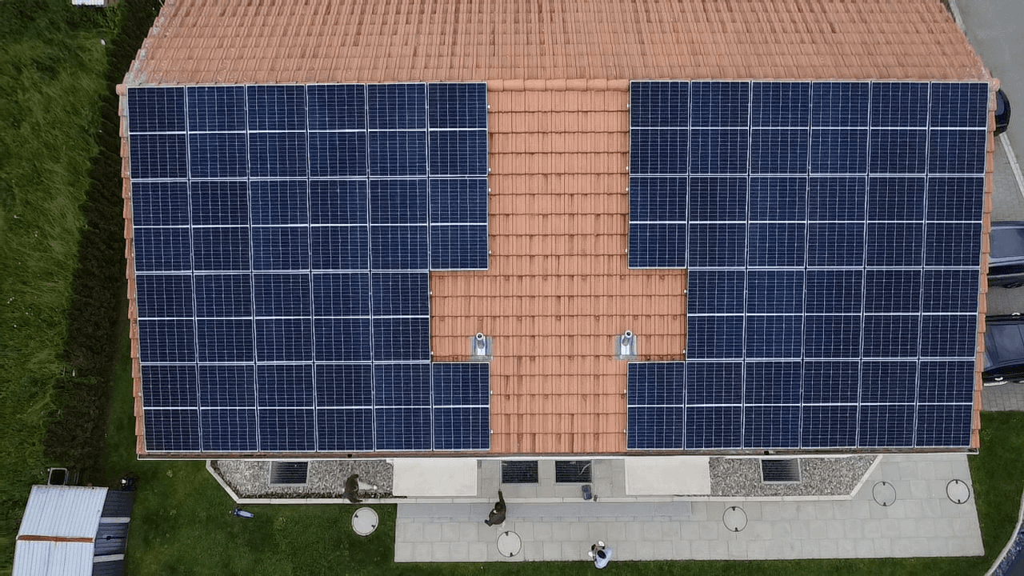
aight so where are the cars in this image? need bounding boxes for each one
[996,75,1021,137]
[985,316,1024,385]
[990,216,1024,289]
